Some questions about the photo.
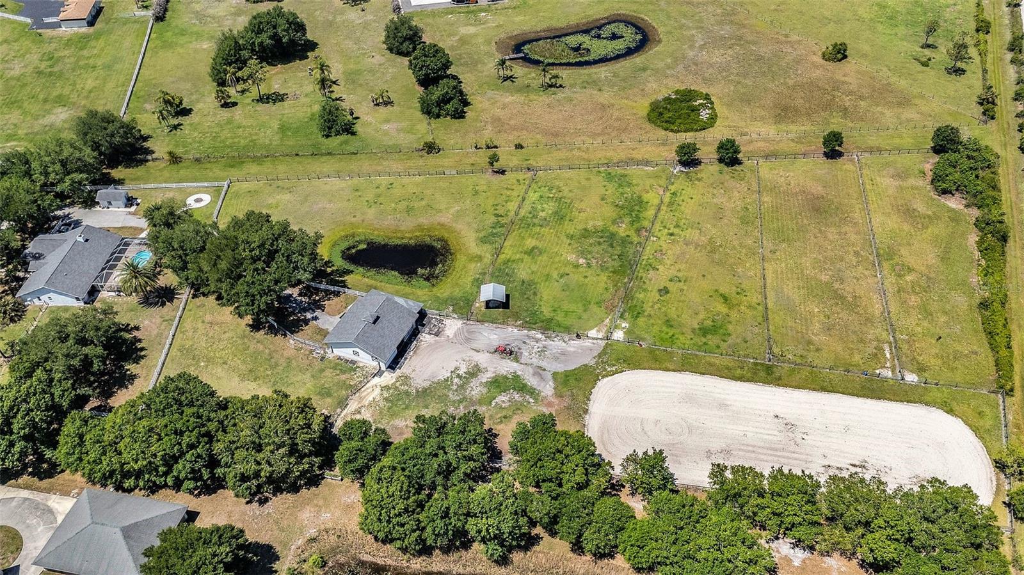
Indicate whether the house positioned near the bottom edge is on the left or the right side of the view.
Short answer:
left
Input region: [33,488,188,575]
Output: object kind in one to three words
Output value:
house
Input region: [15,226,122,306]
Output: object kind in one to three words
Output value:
house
